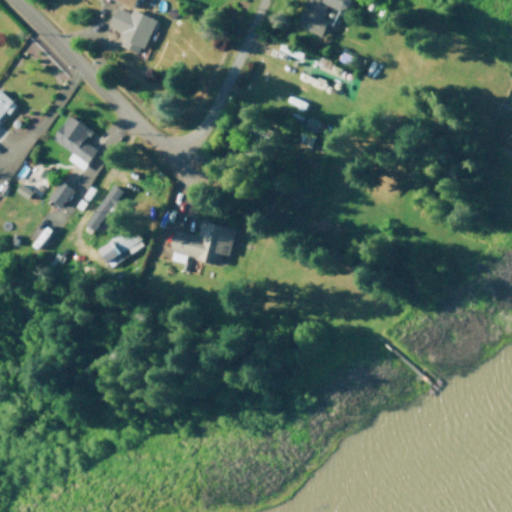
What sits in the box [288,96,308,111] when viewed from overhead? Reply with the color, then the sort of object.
white camper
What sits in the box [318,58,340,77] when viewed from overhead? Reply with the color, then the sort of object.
white vehicle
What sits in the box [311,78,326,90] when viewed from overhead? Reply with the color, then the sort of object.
white vehicle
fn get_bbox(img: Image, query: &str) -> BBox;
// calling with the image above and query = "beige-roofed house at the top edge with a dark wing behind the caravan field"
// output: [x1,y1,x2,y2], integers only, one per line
[306,0,350,39]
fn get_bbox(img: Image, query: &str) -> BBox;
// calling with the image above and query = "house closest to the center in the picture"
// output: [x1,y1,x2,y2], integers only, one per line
[170,223,238,266]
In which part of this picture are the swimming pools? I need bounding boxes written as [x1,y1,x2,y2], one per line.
[18,164,30,179]
[158,0,168,13]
